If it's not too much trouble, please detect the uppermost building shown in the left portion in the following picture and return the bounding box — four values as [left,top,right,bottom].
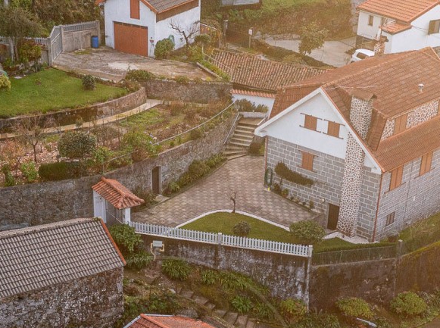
[96,0,205,63]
